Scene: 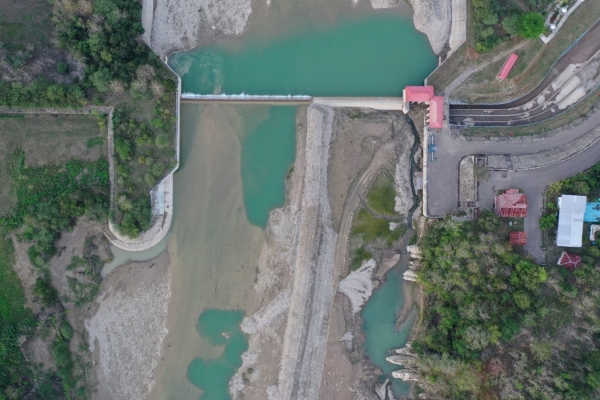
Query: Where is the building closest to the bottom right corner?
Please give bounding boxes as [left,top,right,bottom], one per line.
[555,249,584,269]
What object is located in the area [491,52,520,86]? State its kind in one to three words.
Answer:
shed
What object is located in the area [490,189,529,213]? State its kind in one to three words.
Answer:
house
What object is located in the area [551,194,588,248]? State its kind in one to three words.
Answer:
building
